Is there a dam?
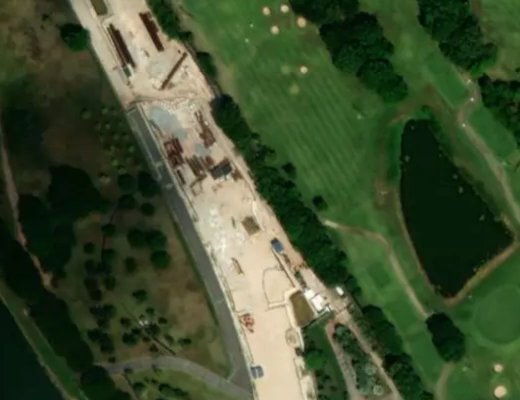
No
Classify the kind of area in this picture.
golf course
